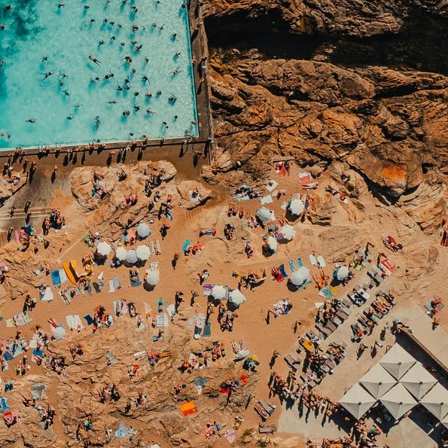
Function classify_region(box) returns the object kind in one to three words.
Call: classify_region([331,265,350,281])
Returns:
umbrella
